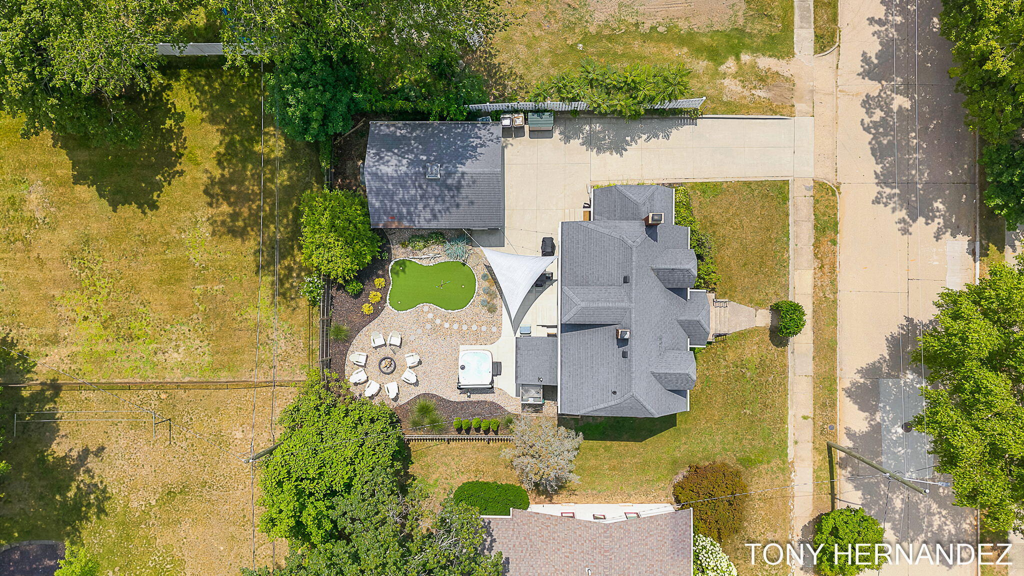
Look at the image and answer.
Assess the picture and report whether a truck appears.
No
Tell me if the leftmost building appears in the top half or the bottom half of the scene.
top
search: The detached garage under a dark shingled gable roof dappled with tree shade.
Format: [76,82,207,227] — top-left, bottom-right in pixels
[364,121,503,230]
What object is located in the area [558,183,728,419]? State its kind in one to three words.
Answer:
house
